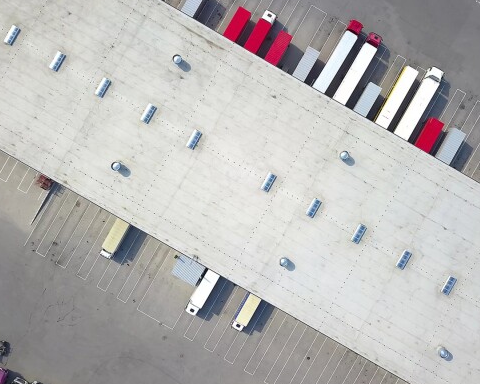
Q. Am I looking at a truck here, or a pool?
truck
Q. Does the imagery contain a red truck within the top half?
Yes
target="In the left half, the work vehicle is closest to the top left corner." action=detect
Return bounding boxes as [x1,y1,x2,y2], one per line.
[37,175,51,189]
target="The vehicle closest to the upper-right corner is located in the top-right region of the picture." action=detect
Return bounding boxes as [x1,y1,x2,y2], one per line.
[415,66,444,93]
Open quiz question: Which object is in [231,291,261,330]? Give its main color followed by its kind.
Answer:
white truck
